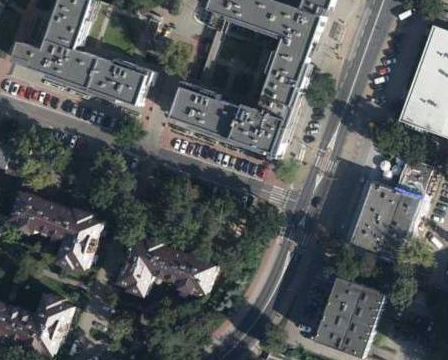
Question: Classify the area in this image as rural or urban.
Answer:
urban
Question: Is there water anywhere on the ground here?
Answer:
No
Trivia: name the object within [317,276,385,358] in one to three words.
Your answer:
building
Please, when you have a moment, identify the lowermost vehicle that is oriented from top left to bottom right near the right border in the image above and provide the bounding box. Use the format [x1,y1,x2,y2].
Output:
[427,232,443,248]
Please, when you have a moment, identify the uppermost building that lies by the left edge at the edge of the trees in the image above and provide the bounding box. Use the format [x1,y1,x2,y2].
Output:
[11,0,154,113]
